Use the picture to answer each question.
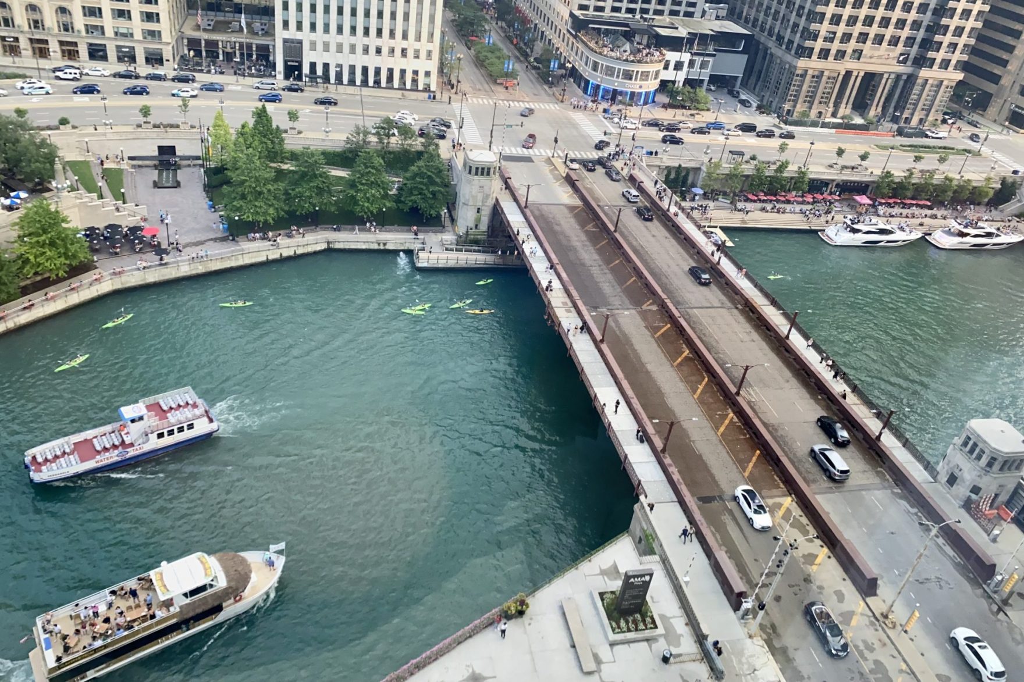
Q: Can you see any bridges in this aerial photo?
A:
Yes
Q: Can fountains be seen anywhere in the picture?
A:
Yes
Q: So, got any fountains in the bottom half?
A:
No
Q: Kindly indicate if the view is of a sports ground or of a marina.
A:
marina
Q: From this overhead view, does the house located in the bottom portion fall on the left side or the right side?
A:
right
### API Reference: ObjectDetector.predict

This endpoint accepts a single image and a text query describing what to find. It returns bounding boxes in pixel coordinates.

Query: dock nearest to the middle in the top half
[415,242,521,265]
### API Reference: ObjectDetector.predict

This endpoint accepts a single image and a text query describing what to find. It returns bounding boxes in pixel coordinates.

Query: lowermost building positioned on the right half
[933,414,1024,516]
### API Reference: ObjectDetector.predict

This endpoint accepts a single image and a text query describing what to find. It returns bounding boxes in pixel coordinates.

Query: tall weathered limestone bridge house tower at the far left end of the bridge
[453,143,507,248]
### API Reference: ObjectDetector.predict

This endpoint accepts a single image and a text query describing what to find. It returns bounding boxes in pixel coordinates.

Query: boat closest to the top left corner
[102,313,133,328]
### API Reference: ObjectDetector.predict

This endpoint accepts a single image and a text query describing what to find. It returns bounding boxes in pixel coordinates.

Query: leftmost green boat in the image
[54,353,89,372]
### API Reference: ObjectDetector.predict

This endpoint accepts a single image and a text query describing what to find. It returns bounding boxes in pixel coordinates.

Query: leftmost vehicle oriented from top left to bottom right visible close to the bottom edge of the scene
[804,600,856,660]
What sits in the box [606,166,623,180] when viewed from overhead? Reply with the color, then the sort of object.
gray car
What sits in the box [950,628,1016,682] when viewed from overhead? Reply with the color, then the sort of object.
white car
